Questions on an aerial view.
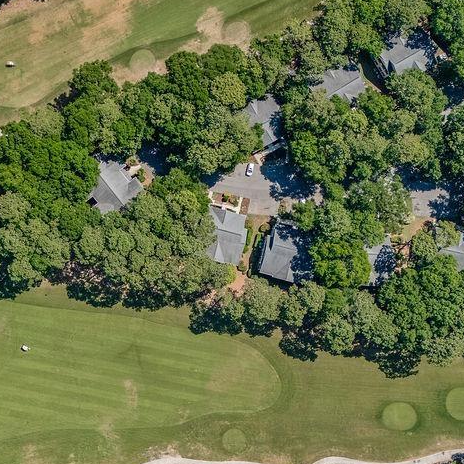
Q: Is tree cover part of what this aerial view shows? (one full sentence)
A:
Yes, there's tree cover in this view.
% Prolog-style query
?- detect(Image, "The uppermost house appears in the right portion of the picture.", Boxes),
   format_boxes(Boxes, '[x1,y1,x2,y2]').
[367,25,437,80]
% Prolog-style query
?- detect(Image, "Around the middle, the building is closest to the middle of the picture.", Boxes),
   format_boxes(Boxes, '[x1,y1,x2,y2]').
[205,202,249,265]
